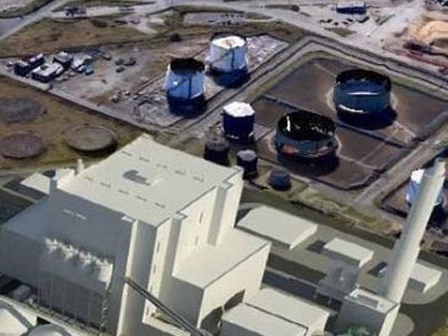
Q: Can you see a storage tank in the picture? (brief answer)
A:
Yes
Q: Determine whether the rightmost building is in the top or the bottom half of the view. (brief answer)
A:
bottom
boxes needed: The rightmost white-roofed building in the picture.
[409,267,441,301]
